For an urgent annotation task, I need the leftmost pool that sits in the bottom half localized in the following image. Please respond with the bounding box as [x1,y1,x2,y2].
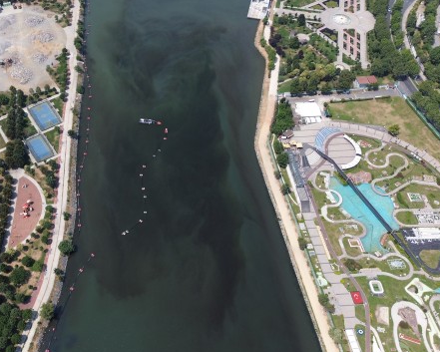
[329,181,400,254]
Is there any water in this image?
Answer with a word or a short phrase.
Yes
